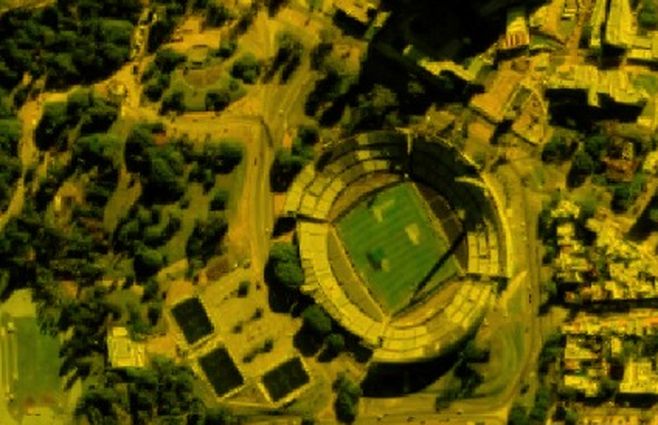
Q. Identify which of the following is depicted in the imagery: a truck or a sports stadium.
sports stadium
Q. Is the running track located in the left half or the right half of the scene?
left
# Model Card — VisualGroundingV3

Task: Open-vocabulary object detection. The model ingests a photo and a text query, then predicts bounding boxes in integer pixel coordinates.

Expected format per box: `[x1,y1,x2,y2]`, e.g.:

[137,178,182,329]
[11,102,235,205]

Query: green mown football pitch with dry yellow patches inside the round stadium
[337,184,462,316]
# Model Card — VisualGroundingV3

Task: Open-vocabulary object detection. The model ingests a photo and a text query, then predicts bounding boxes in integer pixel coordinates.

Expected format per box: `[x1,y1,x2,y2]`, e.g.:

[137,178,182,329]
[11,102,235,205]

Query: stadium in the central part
[285,128,513,370]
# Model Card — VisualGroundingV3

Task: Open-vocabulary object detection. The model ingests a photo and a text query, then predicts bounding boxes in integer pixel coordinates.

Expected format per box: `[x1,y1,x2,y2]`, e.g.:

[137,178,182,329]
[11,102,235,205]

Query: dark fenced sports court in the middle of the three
[196,343,248,401]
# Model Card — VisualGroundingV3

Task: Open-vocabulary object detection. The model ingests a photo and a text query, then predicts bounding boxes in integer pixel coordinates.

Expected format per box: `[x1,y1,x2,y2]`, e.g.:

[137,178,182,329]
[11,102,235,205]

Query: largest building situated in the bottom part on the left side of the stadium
[109,339,139,368]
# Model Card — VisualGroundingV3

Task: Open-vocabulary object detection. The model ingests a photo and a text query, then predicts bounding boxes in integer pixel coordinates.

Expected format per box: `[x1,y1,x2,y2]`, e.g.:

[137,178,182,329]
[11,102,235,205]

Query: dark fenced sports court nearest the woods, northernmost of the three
[168,293,218,350]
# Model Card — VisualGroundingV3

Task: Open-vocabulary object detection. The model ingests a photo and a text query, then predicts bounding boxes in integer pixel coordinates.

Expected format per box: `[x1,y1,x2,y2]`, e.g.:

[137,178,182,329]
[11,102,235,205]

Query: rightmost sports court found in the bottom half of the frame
[259,354,316,405]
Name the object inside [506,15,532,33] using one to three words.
building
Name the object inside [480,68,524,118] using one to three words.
building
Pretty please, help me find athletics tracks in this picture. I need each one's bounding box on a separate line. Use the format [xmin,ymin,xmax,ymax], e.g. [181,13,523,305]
[0,287,85,425]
